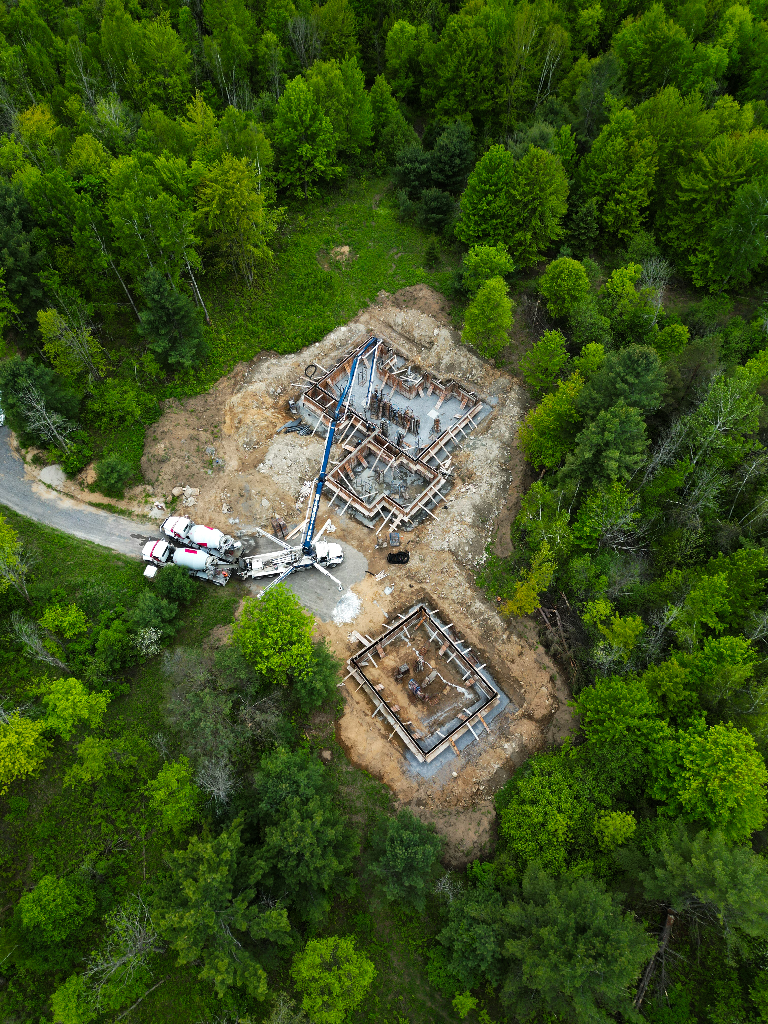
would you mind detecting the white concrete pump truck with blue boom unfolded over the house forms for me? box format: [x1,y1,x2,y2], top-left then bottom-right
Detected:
[238,336,383,596]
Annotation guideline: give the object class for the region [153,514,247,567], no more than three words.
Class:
truck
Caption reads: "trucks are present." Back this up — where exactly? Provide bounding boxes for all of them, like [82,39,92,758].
[238,336,383,596]
[138,539,242,588]
[153,514,247,567]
